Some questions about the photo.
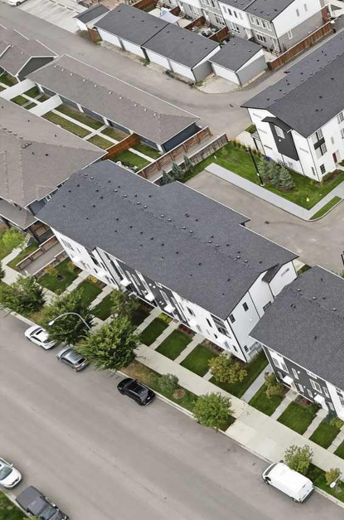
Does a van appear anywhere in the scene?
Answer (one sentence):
Yes, this view includes a van.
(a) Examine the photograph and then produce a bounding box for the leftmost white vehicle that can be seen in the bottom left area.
[0,461,24,490]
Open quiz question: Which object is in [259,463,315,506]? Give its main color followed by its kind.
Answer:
white van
